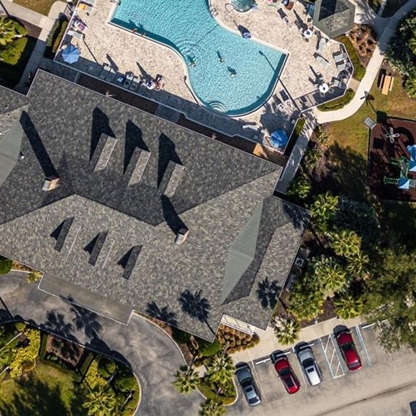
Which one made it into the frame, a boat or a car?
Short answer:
car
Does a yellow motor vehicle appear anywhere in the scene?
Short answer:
No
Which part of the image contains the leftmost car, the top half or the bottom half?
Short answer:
bottom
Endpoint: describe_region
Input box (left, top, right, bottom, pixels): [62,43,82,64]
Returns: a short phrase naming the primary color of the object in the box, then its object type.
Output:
blue umbrella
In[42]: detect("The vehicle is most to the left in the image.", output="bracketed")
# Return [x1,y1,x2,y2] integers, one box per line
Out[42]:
[237,362,261,405]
